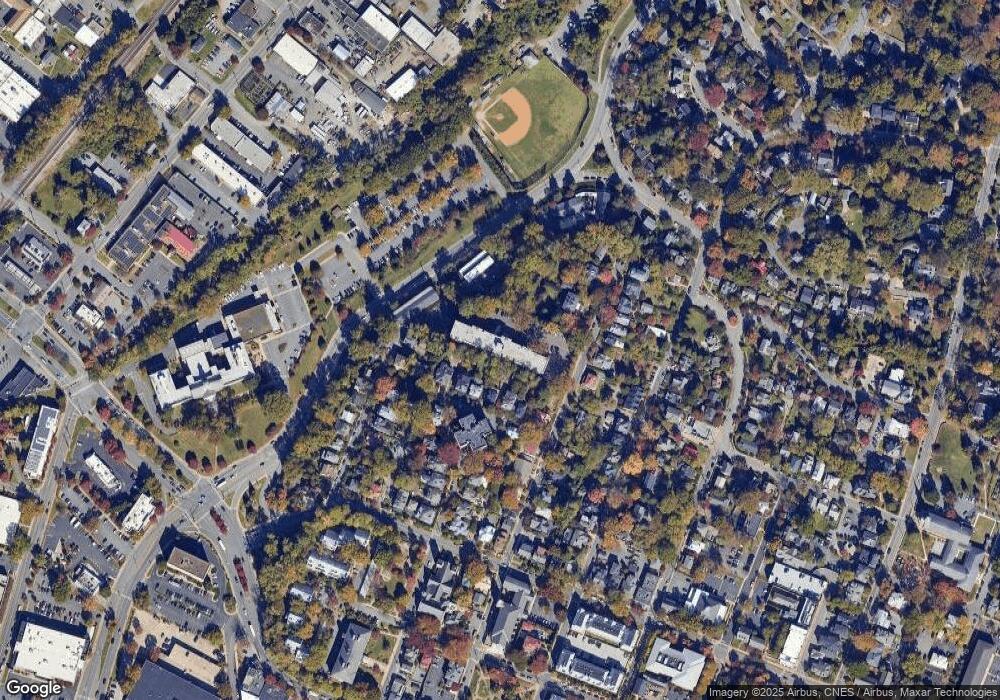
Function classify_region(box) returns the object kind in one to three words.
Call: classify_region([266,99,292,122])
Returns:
shed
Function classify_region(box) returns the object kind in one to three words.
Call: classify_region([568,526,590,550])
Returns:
house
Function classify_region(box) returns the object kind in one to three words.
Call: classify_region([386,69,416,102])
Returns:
building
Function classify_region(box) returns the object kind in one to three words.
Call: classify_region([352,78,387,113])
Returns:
hangar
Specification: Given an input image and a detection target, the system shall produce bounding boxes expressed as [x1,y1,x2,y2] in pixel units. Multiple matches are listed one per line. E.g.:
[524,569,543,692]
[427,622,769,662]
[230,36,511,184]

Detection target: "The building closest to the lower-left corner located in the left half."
[15,622,87,686]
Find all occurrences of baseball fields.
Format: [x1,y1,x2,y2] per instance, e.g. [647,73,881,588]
[474,58,588,182]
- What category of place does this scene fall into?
residential area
